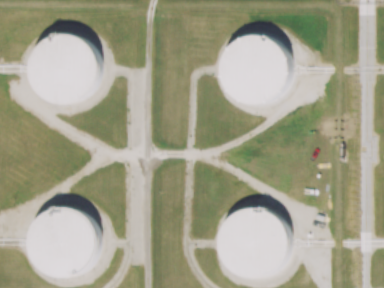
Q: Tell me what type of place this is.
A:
industrial area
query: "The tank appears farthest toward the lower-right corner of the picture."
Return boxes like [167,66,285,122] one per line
[216,206,292,280]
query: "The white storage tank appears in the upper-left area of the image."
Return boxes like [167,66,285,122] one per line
[28,34,104,106]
